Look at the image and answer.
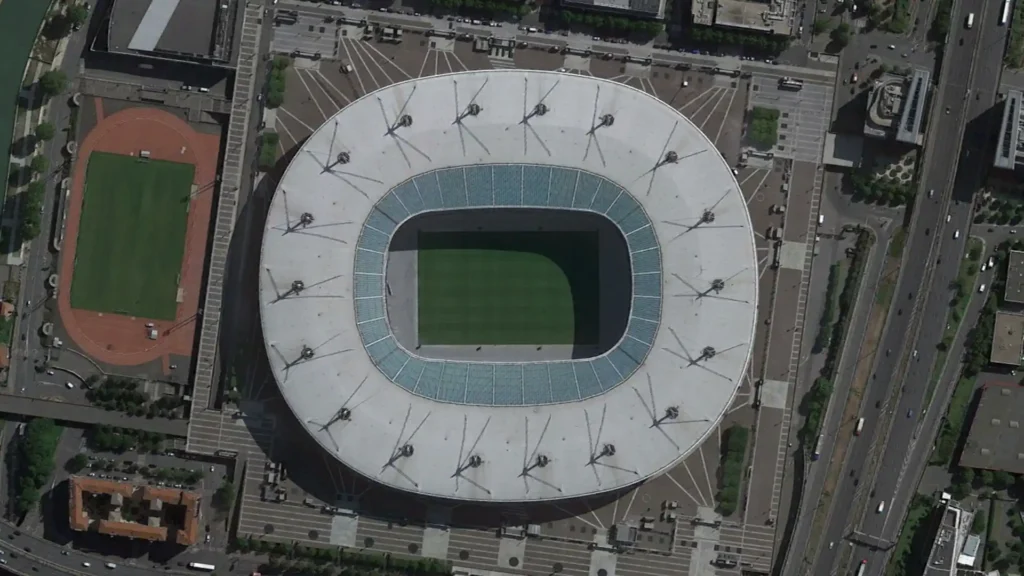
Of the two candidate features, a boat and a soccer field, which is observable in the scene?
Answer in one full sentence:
The image shows a soccer field.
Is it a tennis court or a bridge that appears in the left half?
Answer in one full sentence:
Looking in the left half, you will find a bridge.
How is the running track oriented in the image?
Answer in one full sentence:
From this overhead view, the running track appears to run up and down.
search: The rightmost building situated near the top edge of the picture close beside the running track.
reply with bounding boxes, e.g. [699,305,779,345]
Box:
[91,0,246,71]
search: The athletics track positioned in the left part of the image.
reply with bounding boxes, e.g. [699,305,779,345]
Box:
[61,97,220,376]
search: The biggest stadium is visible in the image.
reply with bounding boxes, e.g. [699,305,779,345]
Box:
[261,70,757,500]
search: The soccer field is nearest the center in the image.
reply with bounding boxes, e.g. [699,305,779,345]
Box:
[417,231,600,348]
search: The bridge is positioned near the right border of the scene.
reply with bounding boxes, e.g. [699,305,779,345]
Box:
[814,0,1014,576]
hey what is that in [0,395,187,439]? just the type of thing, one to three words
bridge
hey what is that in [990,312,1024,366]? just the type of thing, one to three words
building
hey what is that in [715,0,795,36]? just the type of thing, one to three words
building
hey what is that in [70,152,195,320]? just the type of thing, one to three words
soccer field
